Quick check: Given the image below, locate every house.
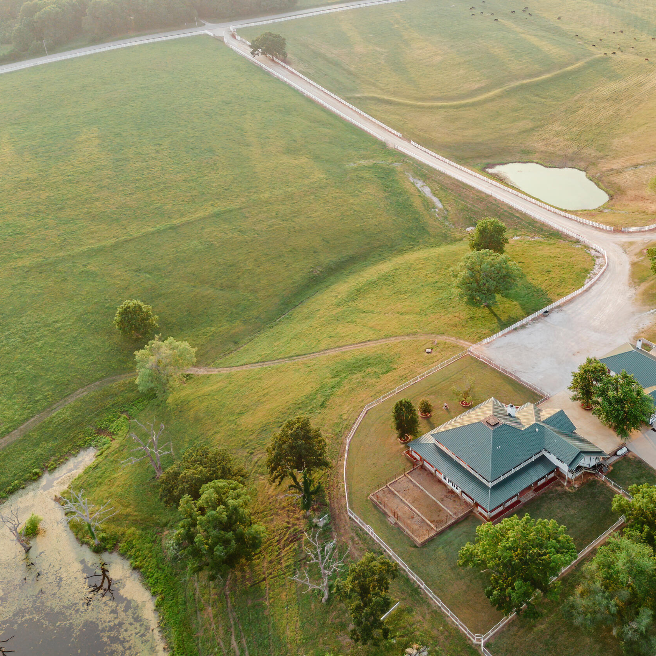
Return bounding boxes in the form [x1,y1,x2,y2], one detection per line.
[407,396,610,526]
[598,338,656,419]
